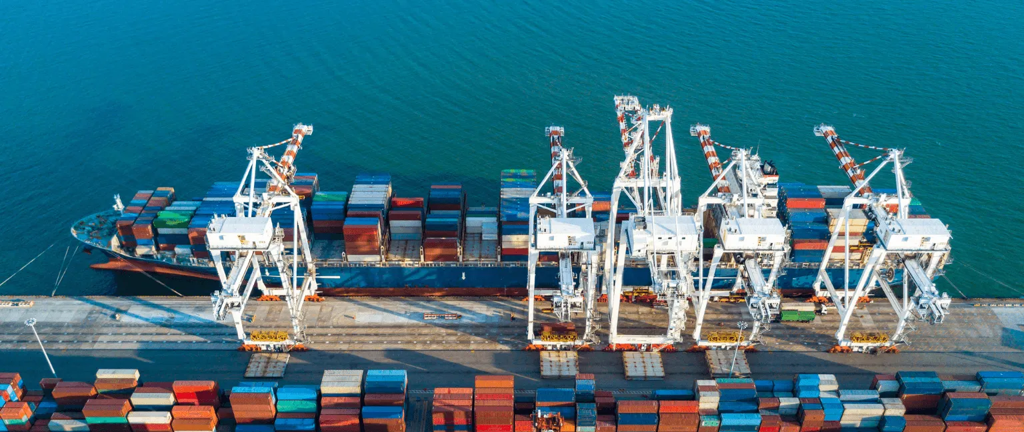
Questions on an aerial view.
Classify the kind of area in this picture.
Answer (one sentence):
This image shows a port.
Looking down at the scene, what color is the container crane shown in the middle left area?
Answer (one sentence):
The container crane shown in the middle left area is white.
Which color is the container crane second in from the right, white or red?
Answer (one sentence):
In this view, the container crane second in from the right is white.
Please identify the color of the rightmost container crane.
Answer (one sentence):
The rightmost container crane looks white in the image.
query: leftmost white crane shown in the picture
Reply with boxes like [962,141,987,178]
[204,122,323,350]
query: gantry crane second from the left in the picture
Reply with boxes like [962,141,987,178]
[520,122,606,352]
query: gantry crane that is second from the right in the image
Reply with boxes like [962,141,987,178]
[682,124,788,352]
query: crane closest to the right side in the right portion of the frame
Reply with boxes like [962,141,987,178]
[804,123,951,354]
